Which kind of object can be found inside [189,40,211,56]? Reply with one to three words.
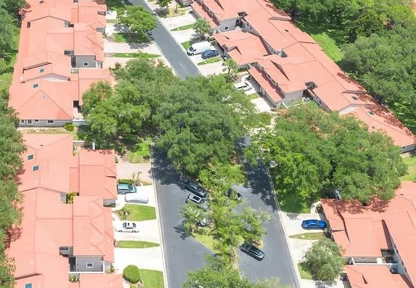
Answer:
vehicle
